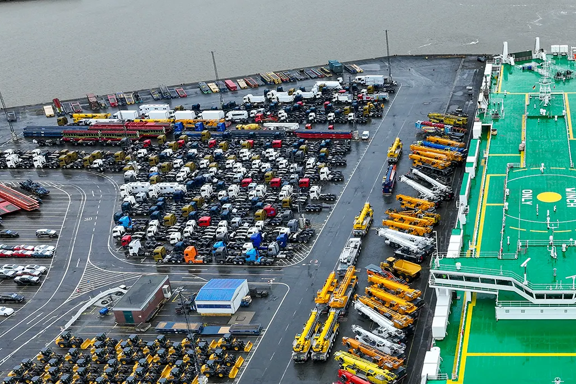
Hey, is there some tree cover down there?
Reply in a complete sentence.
No, the scene doesn't show any tree cover.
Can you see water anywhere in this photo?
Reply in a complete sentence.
Yes, some water is visible.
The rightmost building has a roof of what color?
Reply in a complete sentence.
The color of the roof on the rightmost building is blue.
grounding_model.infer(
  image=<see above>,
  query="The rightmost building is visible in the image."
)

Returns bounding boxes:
[192,275,254,314]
